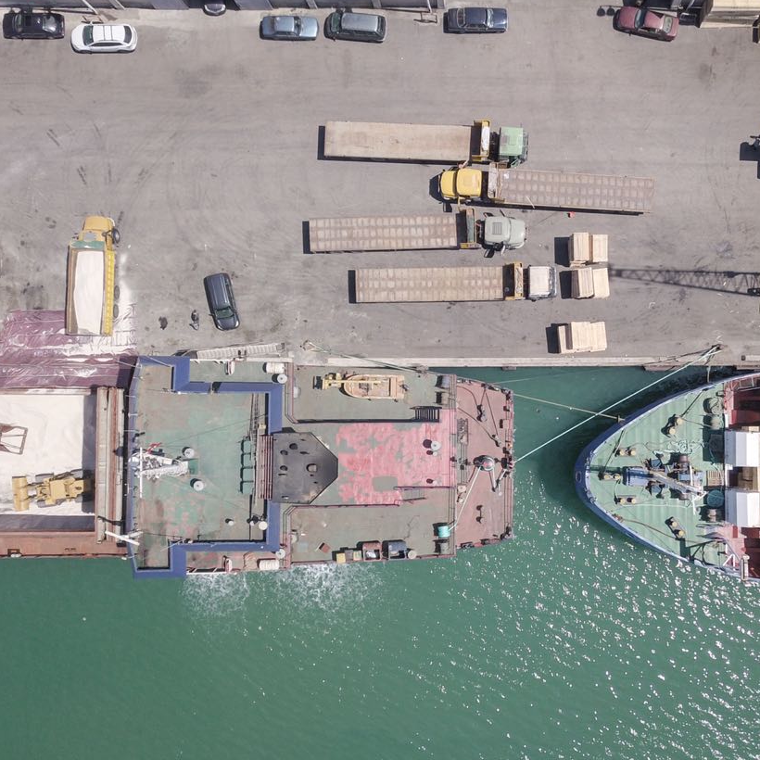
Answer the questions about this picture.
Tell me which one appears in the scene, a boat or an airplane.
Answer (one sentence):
This aerial view contains a boat.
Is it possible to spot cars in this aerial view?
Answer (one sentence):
Yes, there is a car in the image.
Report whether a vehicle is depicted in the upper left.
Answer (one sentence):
Yes, there is a vehicle in the upper left.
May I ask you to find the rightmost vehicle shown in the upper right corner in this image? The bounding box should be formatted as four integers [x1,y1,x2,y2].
[613,6,678,43]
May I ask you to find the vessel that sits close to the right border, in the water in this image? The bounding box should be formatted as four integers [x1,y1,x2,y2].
[578,372,760,583]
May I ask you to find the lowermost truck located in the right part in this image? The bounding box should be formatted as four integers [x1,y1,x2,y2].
[355,260,558,305]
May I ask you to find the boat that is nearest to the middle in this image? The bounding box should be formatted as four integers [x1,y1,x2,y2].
[341,373,407,399]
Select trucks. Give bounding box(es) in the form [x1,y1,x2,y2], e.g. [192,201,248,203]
[440,161,657,213]
[65,217,120,336]
[355,260,558,305]
[308,209,526,256]
[324,120,529,168]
